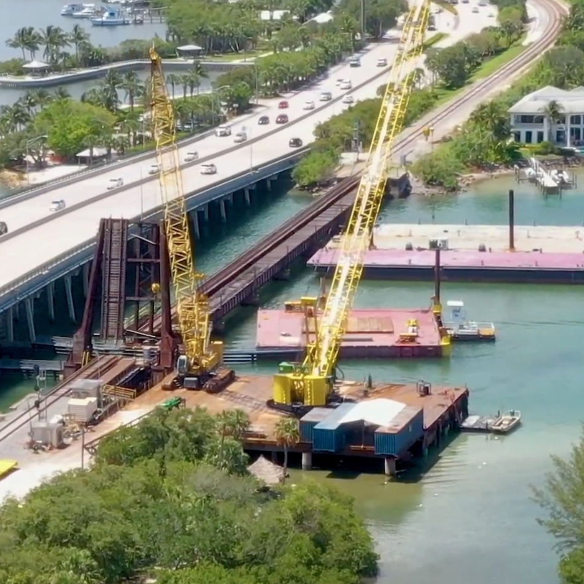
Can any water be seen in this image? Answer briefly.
Yes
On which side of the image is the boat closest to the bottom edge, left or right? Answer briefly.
right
